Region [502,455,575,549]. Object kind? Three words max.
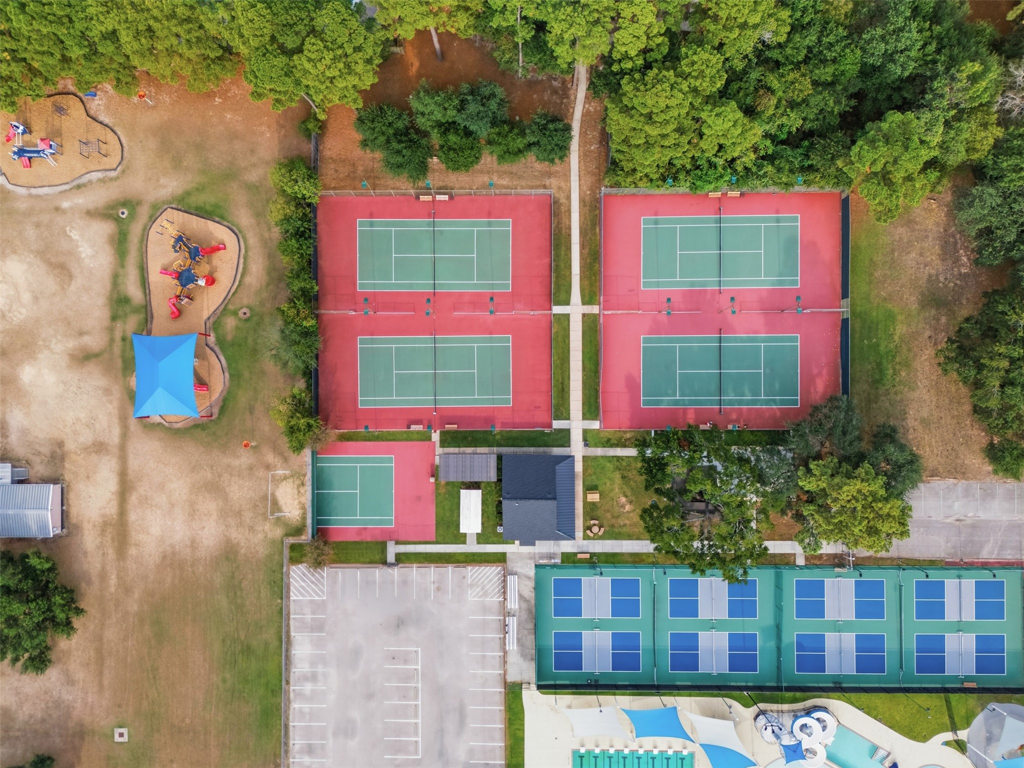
building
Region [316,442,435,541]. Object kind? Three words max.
tennis court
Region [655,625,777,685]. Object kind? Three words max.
sports court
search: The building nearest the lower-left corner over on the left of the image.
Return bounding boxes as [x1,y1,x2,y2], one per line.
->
[0,484,65,538]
